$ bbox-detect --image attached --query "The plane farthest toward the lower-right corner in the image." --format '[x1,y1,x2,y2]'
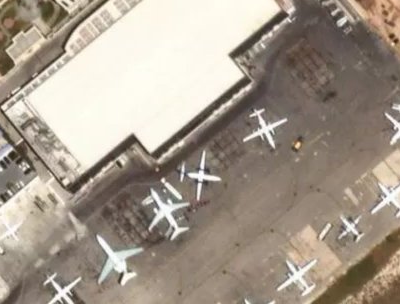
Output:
[337,216,364,242]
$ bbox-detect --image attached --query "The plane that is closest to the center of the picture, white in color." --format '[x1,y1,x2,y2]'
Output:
[179,152,222,201]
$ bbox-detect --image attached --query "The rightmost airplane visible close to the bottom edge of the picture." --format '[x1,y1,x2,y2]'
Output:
[276,259,318,296]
